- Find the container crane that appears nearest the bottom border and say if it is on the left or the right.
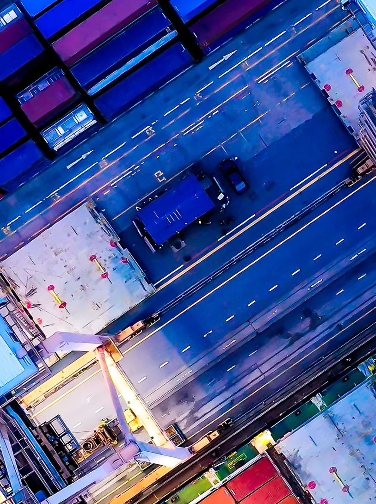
left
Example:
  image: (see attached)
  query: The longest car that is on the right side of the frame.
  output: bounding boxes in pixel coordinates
[218,157,252,194]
